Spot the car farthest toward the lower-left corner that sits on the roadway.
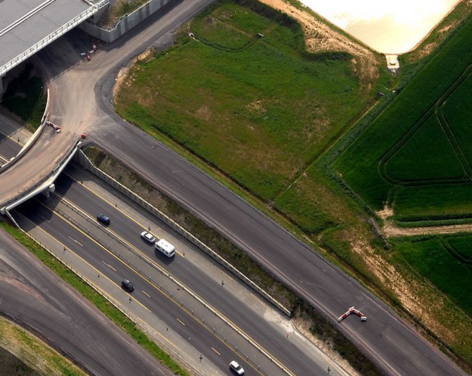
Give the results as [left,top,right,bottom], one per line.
[119,277,136,292]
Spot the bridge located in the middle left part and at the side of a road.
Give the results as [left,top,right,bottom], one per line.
[0,117,85,225]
